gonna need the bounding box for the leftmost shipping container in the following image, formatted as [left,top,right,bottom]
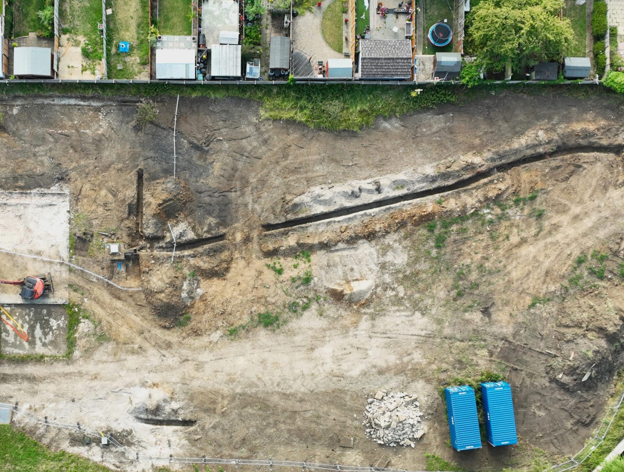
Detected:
[444,385,482,450]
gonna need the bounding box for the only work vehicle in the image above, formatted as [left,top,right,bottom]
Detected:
[0,274,51,295]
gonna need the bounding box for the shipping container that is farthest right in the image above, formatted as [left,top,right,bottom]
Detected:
[479,382,517,446]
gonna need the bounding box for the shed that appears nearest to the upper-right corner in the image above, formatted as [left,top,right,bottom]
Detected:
[558,57,594,79]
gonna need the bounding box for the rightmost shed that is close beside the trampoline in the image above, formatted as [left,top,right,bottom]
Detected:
[431,53,463,76]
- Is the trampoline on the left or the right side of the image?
right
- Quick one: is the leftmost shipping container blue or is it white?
blue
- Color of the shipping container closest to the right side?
blue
